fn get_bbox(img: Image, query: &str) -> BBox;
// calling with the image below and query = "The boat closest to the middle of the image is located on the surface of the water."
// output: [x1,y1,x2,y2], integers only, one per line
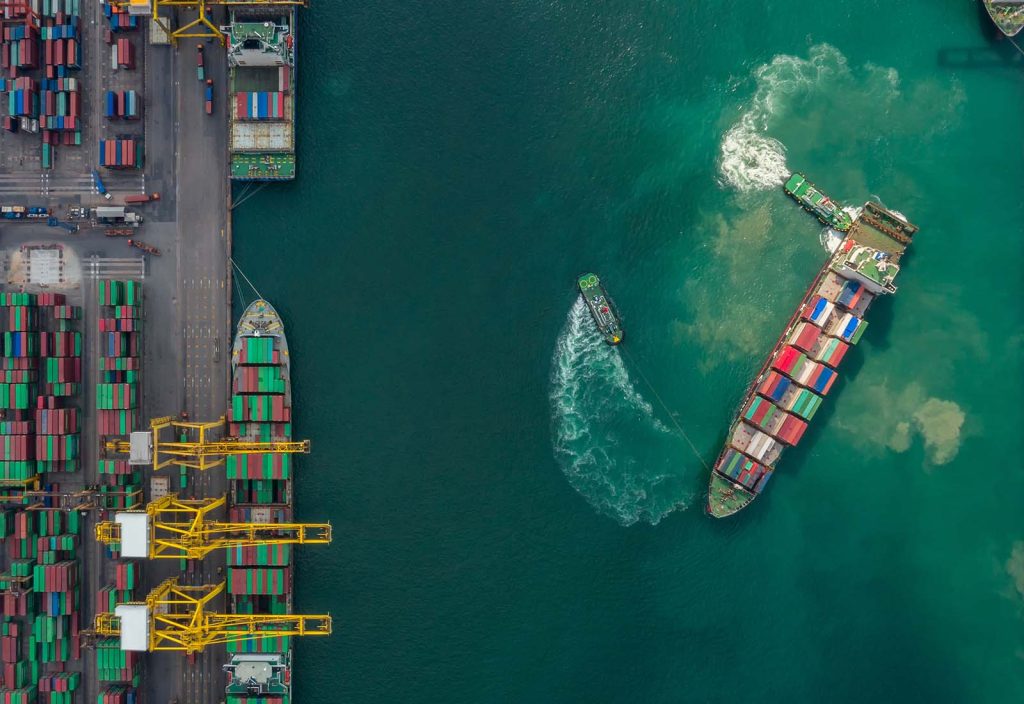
[577,270,622,345]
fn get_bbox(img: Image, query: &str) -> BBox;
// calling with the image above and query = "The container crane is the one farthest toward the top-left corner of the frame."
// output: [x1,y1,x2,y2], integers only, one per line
[0,2,40,36]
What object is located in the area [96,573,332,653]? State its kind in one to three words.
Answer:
container crane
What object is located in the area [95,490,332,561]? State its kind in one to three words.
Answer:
container crane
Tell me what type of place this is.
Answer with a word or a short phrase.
port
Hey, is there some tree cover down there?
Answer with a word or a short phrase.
No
